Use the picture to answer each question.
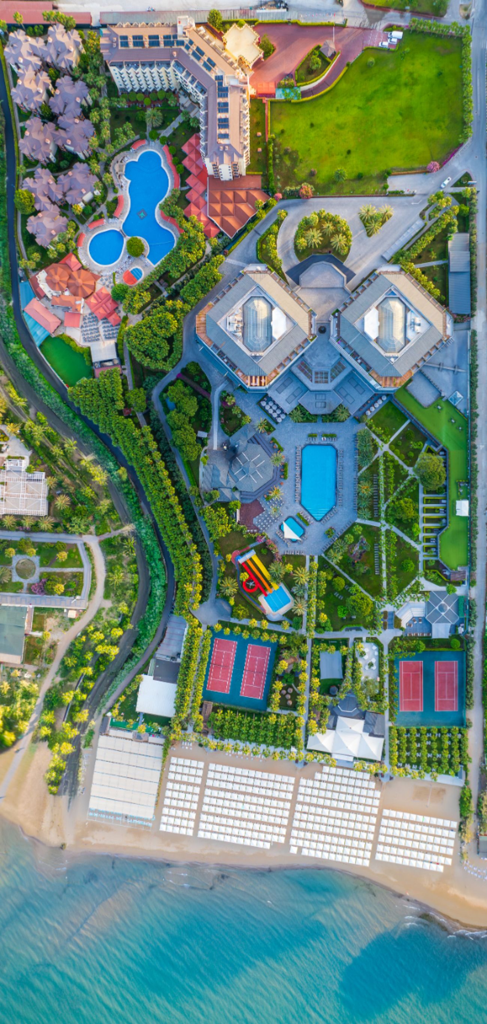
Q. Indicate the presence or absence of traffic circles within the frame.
Yes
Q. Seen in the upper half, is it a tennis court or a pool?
pool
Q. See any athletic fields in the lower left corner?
No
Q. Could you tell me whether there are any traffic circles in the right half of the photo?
Yes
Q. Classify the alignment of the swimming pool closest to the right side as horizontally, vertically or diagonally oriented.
vertically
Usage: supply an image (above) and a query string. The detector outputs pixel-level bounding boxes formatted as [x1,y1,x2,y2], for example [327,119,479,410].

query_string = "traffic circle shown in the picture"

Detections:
[294,212,353,264]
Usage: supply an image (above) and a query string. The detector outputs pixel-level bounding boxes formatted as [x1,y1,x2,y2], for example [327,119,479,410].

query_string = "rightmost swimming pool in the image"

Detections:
[300,444,338,522]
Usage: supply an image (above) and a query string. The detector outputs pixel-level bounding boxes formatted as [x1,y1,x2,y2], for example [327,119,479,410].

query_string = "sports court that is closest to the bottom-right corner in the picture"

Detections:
[412,786,446,809]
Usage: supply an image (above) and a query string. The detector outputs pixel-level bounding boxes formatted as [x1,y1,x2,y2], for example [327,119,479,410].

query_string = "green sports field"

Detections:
[41,336,92,387]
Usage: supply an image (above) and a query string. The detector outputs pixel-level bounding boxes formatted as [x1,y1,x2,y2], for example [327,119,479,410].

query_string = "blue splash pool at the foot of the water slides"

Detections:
[263,586,292,613]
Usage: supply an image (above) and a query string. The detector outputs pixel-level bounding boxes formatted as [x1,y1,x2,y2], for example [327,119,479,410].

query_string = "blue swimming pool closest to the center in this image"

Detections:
[279,515,305,543]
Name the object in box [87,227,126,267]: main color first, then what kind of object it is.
blue swimming pool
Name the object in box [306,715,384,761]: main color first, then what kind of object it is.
white tent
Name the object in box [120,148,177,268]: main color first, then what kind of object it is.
blue swimming pool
